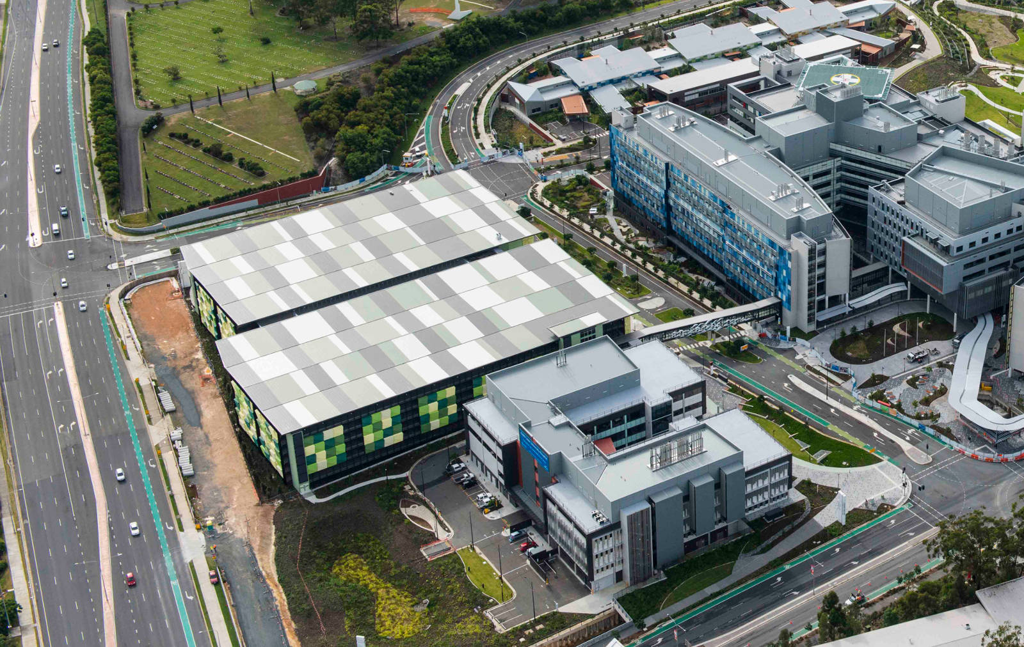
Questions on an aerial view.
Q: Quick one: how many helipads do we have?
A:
1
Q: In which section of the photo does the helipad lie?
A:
top right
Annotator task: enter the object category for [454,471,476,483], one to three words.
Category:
vehicle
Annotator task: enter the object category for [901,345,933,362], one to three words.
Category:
vehicle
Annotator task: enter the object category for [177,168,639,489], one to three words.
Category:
building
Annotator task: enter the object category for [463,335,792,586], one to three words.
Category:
building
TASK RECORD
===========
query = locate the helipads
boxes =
[789,55,901,109]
